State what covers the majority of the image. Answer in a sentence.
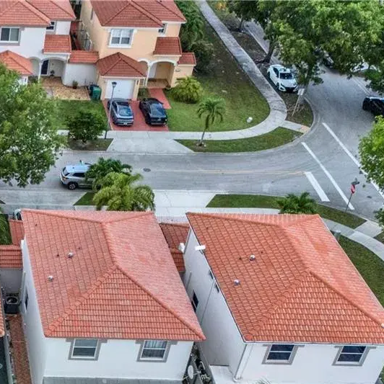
The bulk of the photo consists of buildings.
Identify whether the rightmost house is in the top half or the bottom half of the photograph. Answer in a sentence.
Seen from above, the rightmost house lies in the bottom half of the view.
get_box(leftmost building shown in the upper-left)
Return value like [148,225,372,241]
[0,0,74,90]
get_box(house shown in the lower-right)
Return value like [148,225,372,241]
[186,209,384,384]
